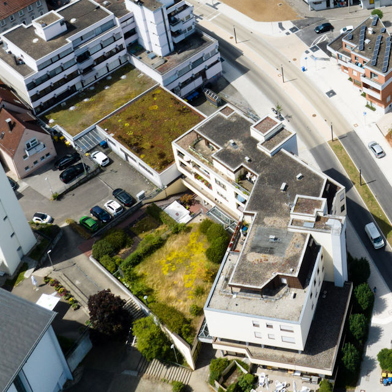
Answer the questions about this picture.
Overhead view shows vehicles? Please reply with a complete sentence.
Yes, the photo shows a vehicle.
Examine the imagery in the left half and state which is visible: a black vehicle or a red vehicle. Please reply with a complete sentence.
You can see a black vehicle in the left half.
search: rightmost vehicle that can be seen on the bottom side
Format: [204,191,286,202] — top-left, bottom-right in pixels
[366,220,384,251]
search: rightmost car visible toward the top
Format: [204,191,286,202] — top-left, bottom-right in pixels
[369,141,384,159]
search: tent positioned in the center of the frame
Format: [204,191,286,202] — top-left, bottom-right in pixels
[164,201,193,230]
